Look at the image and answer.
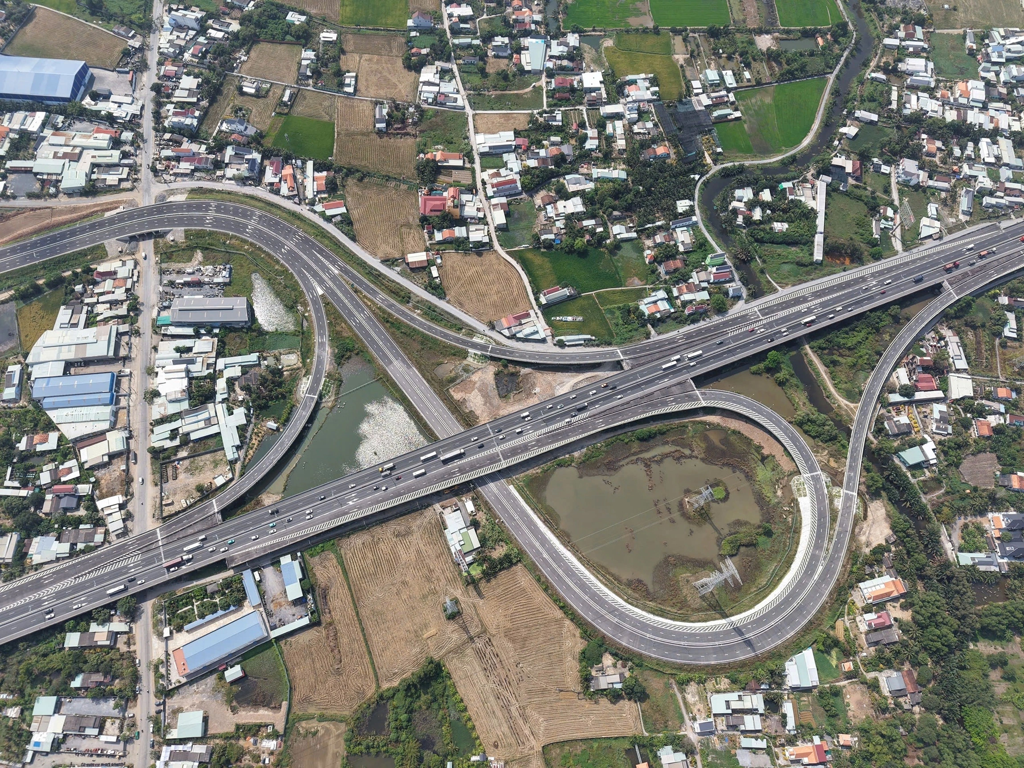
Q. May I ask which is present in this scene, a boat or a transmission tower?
transmission tower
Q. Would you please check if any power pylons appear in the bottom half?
Yes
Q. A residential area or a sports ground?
residential area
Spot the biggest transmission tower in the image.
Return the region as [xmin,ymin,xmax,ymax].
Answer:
[689,554,746,603]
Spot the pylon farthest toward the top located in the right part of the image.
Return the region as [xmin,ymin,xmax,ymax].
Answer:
[686,481,716,515]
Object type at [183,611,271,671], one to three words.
building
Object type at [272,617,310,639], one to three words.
house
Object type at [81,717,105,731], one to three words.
house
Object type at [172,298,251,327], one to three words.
building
